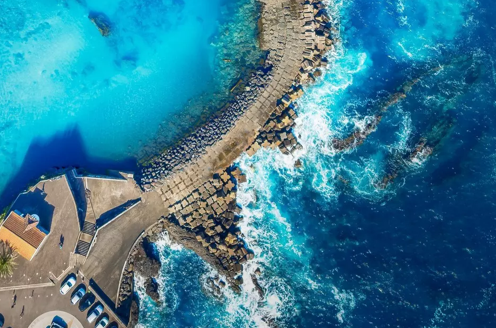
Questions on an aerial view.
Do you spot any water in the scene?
Yes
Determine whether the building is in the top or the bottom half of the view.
bottom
